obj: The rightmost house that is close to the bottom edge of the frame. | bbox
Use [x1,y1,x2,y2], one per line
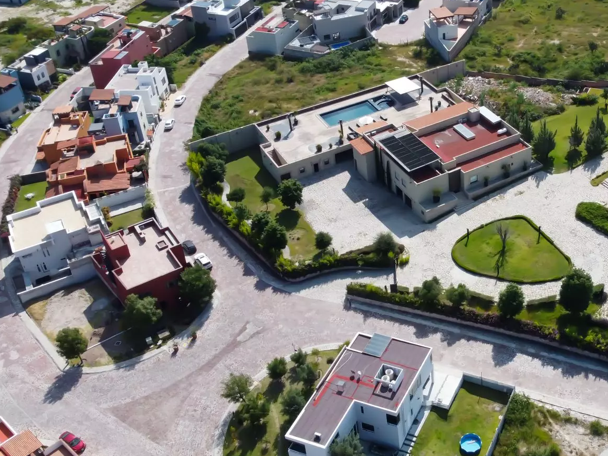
[285,332,435,456]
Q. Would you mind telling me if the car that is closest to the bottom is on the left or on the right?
left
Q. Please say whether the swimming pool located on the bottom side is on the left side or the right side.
right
